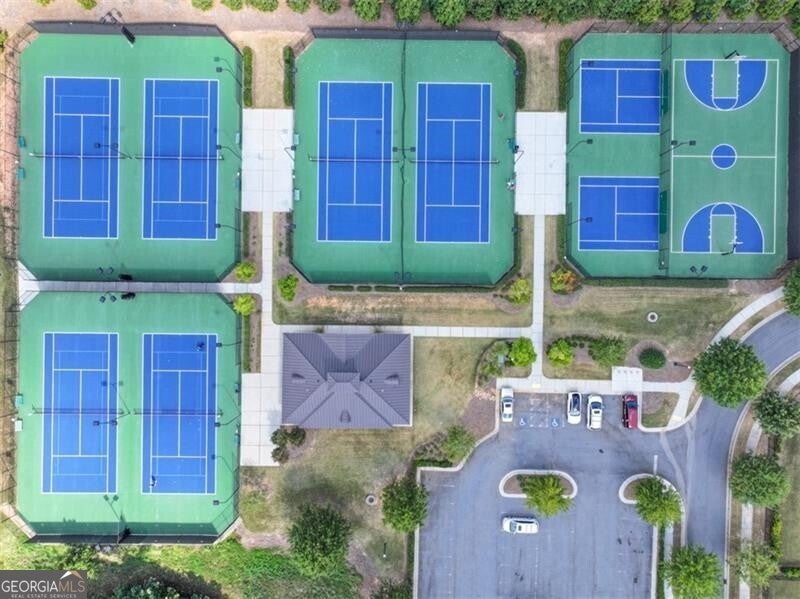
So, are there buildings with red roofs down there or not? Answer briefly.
No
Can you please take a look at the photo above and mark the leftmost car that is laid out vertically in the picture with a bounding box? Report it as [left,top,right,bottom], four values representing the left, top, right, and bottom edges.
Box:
[500,386,515,420]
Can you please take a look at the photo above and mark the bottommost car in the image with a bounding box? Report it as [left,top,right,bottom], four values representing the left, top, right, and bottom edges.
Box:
[502,515,538,533]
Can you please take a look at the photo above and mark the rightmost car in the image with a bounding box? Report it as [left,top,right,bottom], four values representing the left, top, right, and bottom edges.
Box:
[621,393,639,428]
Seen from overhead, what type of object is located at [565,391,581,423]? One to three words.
car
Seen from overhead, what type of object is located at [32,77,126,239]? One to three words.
tennis court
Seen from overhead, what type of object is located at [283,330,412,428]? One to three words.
building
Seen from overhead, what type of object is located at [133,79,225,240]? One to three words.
tennis court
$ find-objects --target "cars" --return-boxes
[565,391,581,423]
[621,393,639,428]
[587,394,604,429]
[500,386,515,420]
[502,515,538,533]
